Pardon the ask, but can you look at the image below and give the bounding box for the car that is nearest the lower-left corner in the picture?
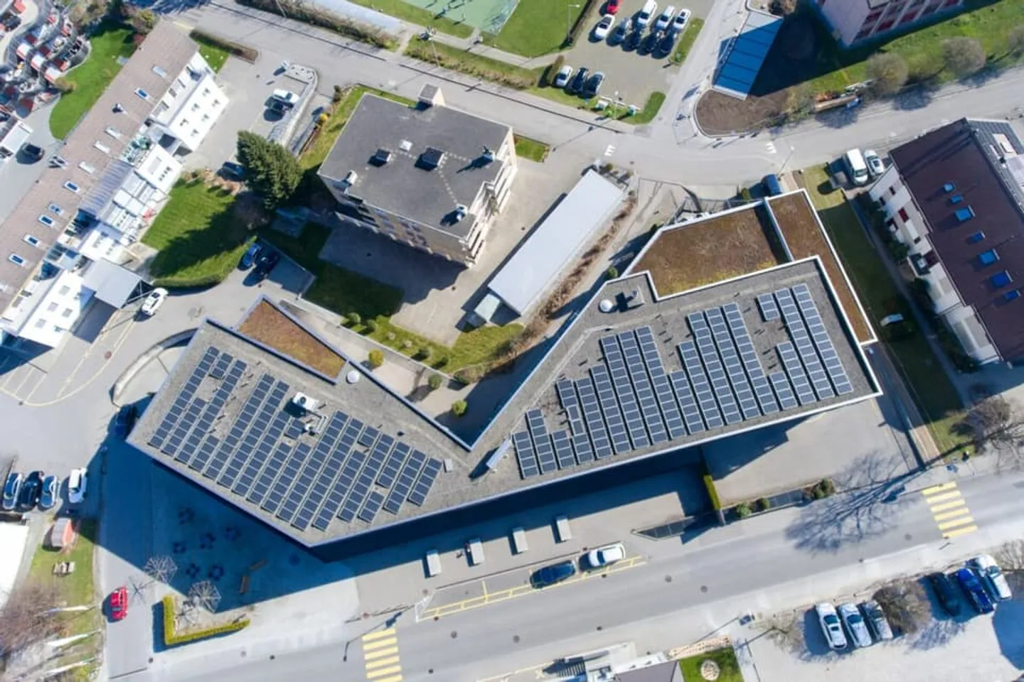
[110,584,131,621]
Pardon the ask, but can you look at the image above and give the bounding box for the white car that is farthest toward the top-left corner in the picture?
[272,86,302,107]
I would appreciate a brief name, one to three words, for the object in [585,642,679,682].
house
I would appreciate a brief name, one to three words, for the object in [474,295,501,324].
shed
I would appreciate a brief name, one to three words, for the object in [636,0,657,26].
vehicle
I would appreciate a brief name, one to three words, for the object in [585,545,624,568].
car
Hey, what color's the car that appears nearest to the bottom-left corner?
red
